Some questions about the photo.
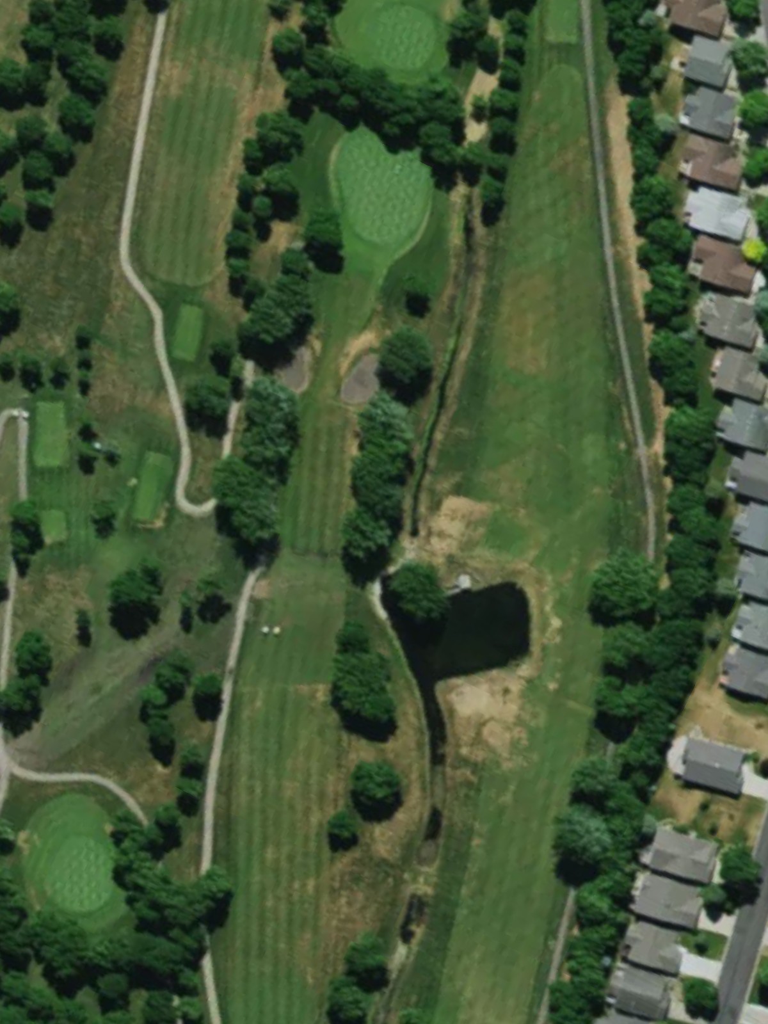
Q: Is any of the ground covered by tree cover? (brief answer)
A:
Yes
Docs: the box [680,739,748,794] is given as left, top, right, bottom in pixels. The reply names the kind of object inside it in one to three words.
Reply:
house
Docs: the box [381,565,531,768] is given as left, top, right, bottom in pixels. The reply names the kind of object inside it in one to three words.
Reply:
pond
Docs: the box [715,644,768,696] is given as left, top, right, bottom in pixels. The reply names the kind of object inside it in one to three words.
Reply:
house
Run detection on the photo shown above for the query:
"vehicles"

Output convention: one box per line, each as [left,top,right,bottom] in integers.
[274,626,279,634]
[22,411,30,417]
[11,410,19,415]
[262,627,270,632]
[94,442,102,449]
